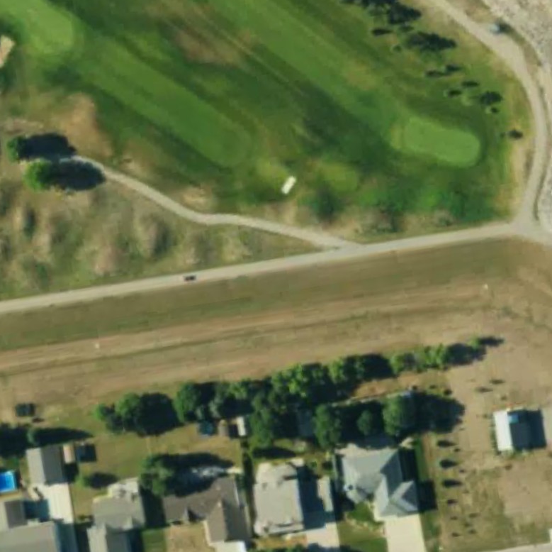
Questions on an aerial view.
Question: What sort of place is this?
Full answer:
This image shows a golf course.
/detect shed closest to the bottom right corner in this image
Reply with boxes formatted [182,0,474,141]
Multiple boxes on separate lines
[492,408,531,451]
